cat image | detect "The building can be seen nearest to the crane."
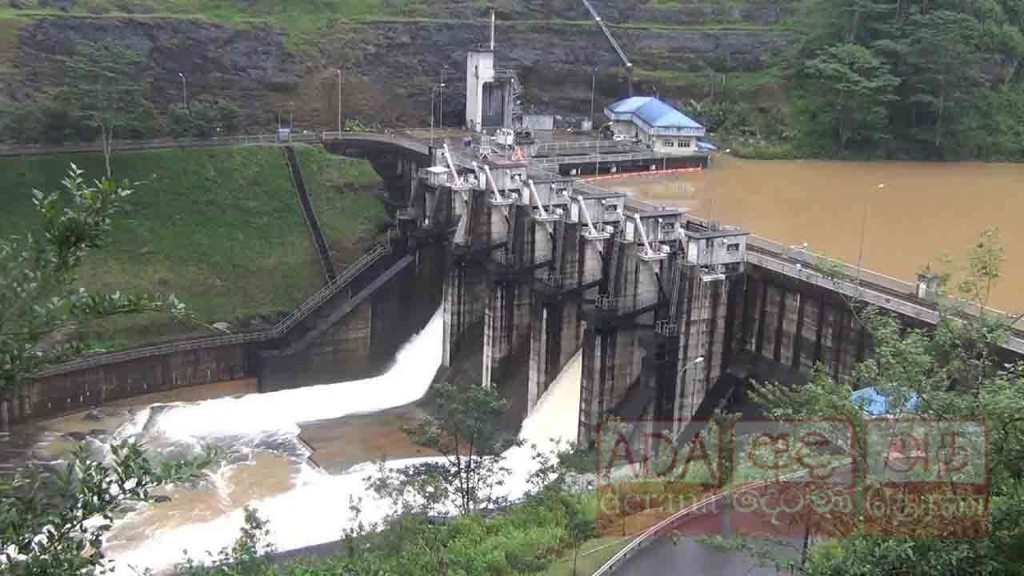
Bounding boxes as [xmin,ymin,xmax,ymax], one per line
[603,78,704,151]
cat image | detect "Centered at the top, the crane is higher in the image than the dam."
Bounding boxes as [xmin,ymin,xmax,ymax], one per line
[582,0,633,97]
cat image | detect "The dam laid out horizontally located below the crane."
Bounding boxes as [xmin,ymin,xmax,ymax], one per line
[252,134,1024,485]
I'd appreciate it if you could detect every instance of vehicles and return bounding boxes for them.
[483,133,520,147]
[513,130,545,148]
[610,133,635,142]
